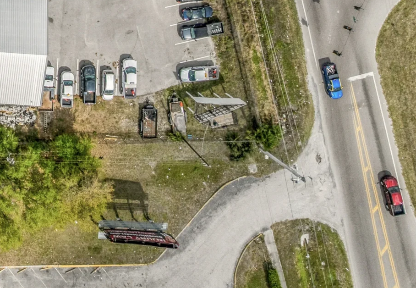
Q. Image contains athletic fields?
No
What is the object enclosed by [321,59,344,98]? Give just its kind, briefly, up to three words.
truck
